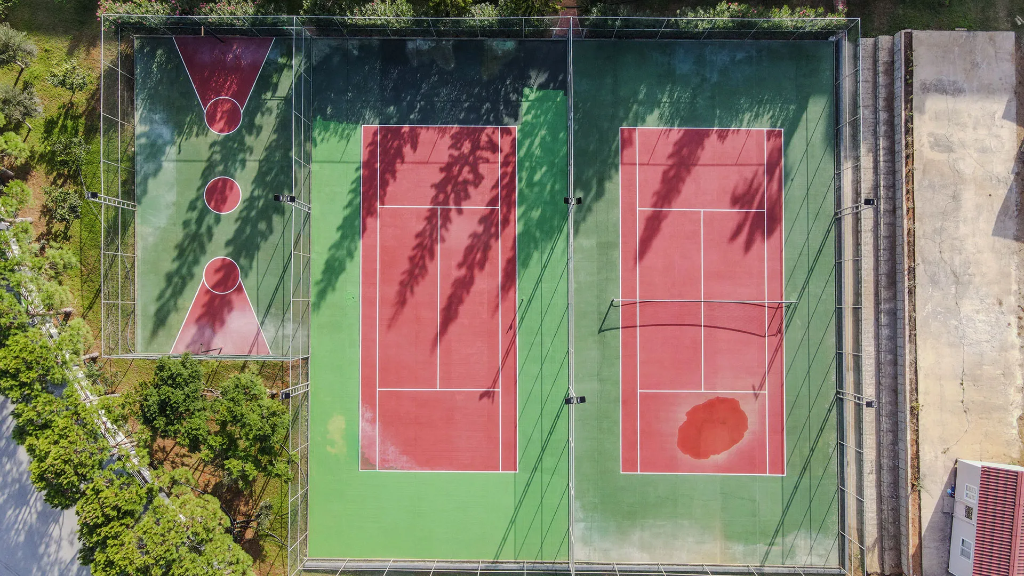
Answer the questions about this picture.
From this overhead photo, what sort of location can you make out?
sports ground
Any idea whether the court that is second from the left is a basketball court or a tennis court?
tennis court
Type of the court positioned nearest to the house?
tennis court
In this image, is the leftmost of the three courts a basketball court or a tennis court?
basketball court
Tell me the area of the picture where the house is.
bottom right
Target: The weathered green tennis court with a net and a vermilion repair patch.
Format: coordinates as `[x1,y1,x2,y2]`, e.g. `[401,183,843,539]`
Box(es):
[569,39,840,566]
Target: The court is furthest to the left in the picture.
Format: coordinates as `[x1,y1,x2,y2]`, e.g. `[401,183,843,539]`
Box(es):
[136,37,310,355]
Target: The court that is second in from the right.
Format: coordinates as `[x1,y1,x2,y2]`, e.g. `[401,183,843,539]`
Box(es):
[309,38,569,560]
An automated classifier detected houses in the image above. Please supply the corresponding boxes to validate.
[949,460,1024,576]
